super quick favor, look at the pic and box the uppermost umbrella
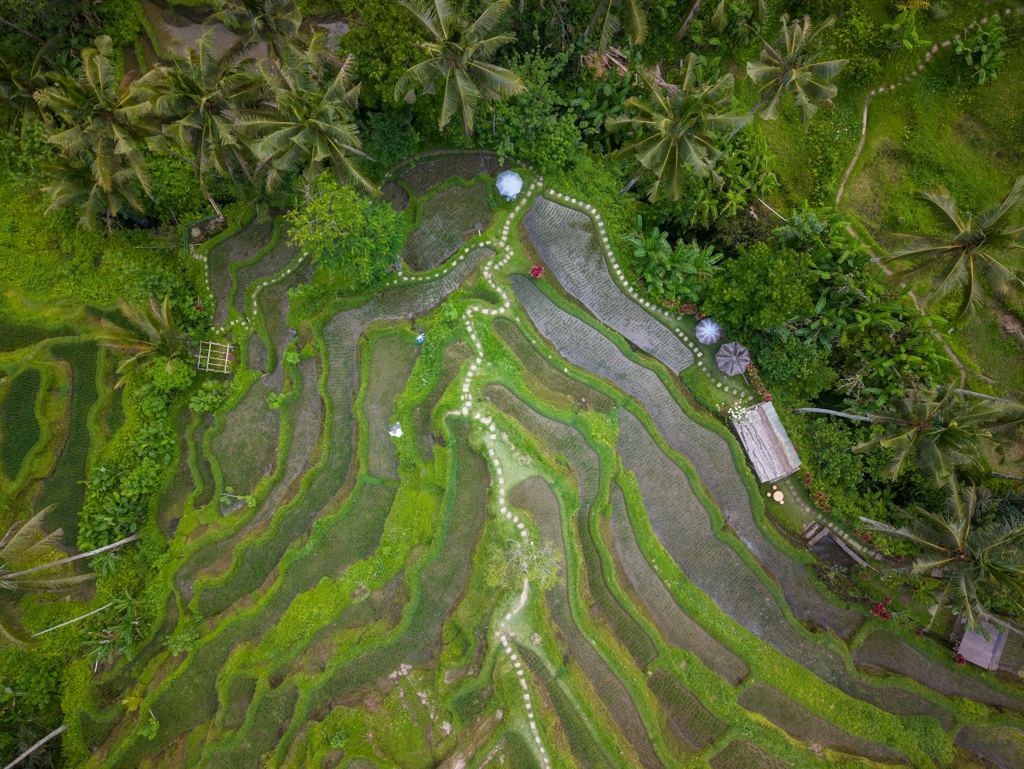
[496,173,523,200]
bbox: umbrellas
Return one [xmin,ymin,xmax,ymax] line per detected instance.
[695,319,719,344]
[496,173,523,200]
[713,341,748,376]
